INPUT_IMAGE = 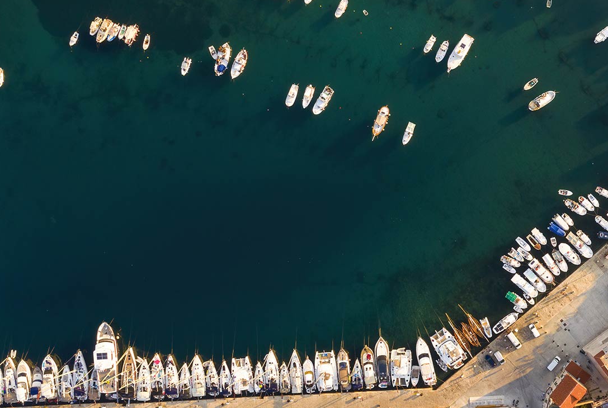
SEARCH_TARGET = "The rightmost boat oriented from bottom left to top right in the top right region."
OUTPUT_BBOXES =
[593,27,608,45]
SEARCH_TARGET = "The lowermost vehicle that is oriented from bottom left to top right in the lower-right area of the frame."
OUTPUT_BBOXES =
[546,356,561,371]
